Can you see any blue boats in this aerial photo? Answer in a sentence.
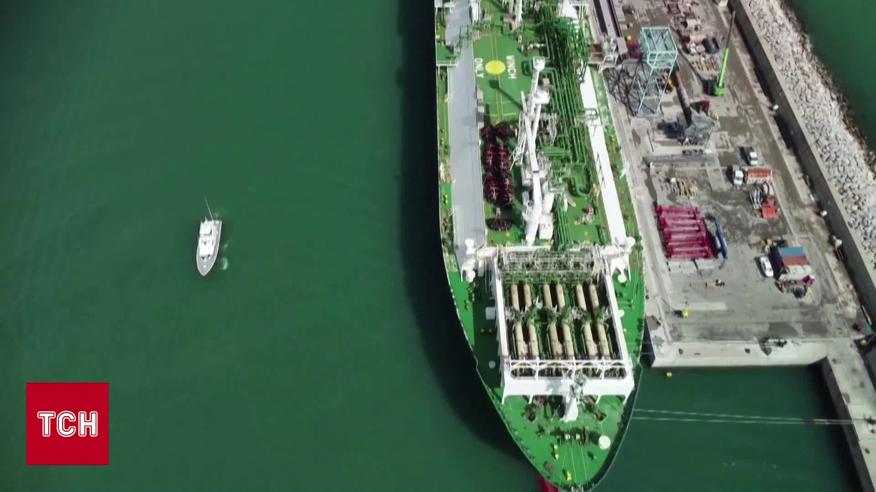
No, I find no blue boat anywhere in the image.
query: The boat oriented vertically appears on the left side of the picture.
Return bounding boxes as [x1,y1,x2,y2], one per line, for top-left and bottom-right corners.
[196,199,222,274]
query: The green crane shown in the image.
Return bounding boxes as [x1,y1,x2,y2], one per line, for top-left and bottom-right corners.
[701,11,736,98]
